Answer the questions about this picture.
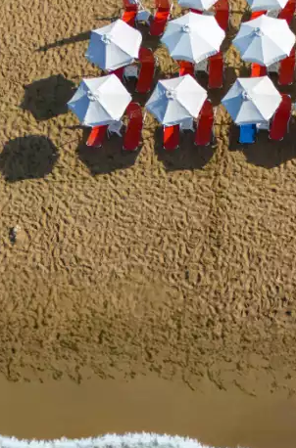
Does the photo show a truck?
No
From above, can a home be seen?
No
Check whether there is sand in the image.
Yes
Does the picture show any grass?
No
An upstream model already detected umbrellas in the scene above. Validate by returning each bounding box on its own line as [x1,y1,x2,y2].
[146,77,210,133]
[178,0,220,10]
[247,0,290,11]
[161,10,227,66]
[232,15,296,70]
[68,79,133,130]
[222,79,282,130]
[81,24,146,72]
